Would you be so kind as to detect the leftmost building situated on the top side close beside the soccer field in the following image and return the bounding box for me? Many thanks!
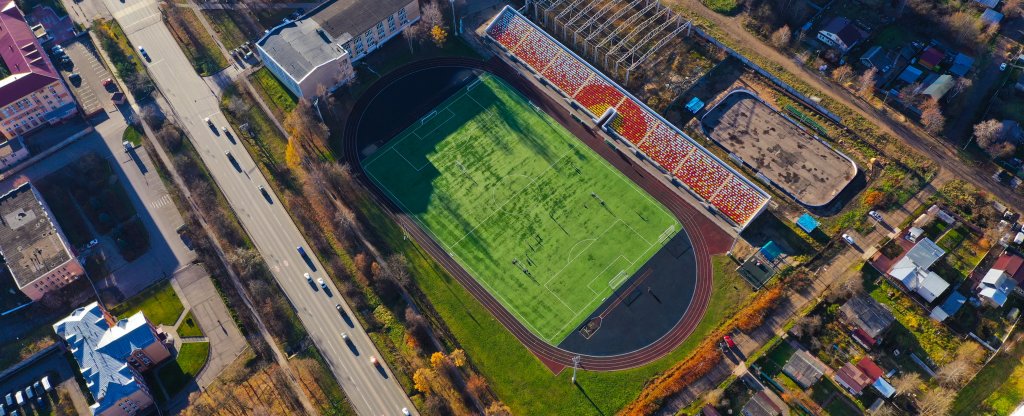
[255,0,425,98]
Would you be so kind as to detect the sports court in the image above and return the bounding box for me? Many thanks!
[699,83,860,207]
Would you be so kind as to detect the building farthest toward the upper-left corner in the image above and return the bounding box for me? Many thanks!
[0,0,78,135]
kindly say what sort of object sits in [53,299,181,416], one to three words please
building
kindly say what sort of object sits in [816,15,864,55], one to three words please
house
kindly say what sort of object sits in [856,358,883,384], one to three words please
house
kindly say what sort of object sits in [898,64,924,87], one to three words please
shed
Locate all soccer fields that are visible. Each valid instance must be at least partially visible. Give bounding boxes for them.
[362,71,682,344]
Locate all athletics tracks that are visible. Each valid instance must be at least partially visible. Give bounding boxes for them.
[344,50,734,376]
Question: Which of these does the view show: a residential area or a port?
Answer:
residential area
